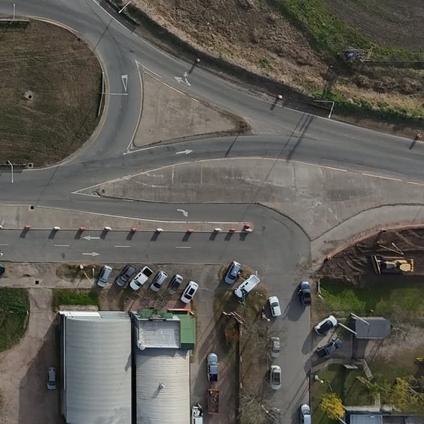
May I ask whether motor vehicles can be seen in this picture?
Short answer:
Yes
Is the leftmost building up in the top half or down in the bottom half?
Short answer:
bottom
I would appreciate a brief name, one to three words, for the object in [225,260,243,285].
car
